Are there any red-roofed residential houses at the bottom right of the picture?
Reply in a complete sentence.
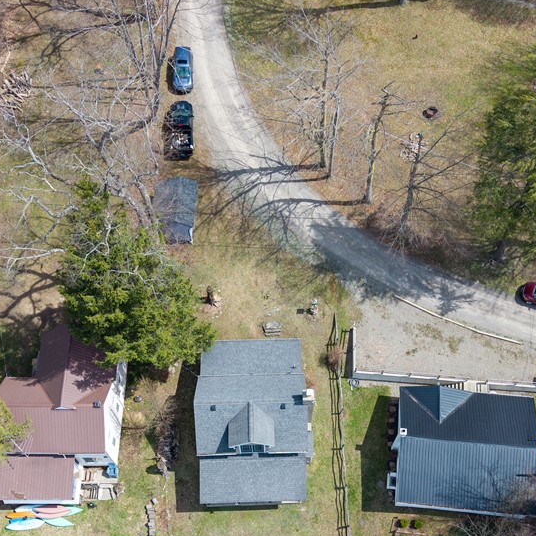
No, the scene shows no red-roofed residential house at the bottom right of the picture.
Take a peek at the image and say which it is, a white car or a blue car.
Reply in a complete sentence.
The image shows a blue car.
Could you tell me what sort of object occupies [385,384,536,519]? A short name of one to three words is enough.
house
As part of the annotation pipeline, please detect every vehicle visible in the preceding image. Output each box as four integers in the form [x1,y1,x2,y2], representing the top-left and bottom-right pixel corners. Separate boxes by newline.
[165,102,192,157]
[167,44,192,86]
[519,279,536,304]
